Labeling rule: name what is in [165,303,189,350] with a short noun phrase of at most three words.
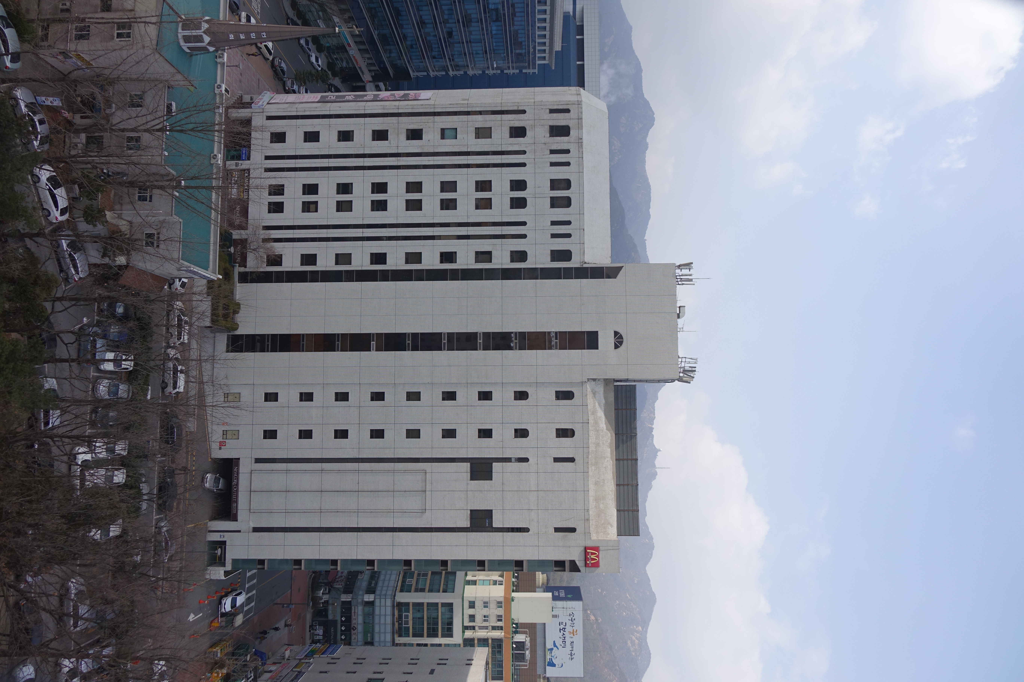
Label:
car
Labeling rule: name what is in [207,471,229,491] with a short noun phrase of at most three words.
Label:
car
